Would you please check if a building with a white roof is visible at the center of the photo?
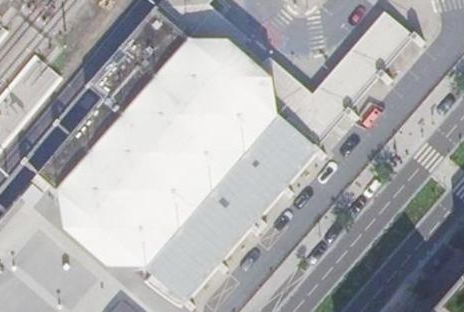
Yes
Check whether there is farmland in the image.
No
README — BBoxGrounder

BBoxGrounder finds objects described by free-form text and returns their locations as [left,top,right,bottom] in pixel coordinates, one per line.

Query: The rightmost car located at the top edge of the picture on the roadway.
[347,5,366,25]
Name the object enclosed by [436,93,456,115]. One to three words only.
car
